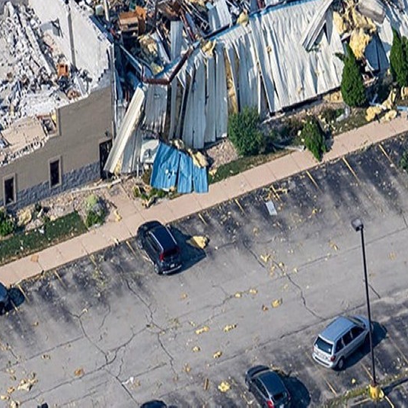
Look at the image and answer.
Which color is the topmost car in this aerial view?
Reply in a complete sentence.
The topmost car looks black in the image.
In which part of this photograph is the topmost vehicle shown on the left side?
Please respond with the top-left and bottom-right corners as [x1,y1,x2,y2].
[137,218,183,277]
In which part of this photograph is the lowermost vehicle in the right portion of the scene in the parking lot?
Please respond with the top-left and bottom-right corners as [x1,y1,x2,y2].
[243,362,299,408]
